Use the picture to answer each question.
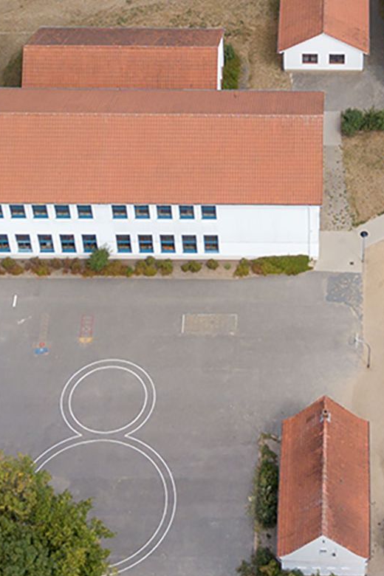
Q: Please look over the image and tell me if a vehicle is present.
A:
No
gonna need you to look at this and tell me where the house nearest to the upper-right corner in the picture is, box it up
[277,0,370,70]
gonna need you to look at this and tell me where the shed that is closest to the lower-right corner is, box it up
[276,399,372,575]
